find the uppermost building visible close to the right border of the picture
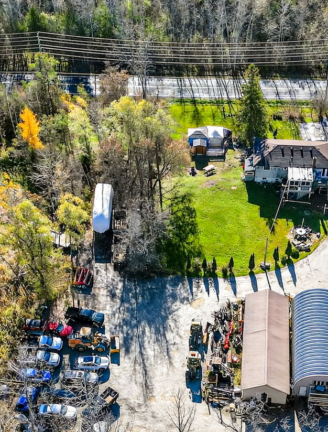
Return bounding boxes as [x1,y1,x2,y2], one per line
[245,141,328,194]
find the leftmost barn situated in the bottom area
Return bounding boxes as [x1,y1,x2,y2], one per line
[239,286,288,403]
